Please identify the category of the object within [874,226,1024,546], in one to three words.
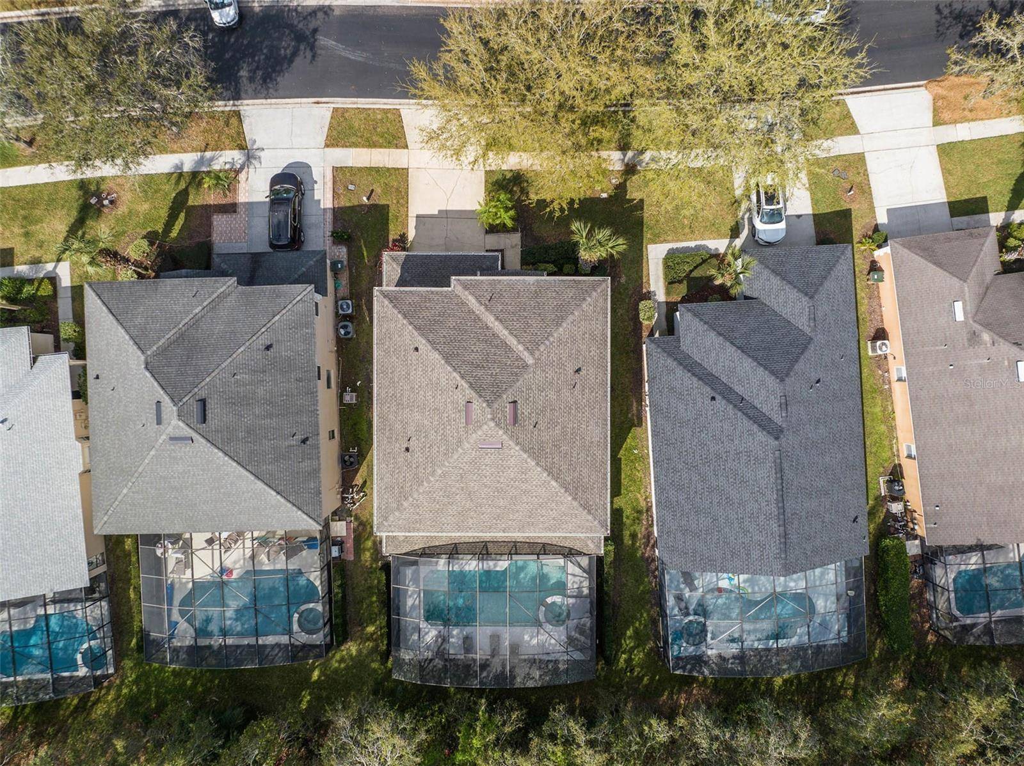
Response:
house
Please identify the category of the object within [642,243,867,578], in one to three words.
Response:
house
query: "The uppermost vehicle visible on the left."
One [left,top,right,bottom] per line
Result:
[198,0,240,31]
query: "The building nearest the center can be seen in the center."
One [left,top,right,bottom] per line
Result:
[373,251,612,557]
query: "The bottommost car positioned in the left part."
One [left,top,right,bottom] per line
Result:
[263,167,305,248]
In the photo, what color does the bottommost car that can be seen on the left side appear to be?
black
